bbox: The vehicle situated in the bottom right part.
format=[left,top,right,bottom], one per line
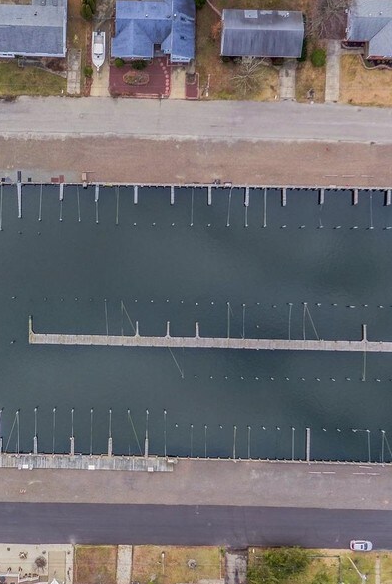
[348,538,372,552]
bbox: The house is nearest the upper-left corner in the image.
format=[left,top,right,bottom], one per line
[0,0,67,65]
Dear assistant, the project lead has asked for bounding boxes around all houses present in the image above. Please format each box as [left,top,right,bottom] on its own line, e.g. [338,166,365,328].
[0,0,67,65]
[0,572,19,584]
[110,0,196,63]
[222,9,308,60]
[344,0,392,61]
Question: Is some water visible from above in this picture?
Yes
